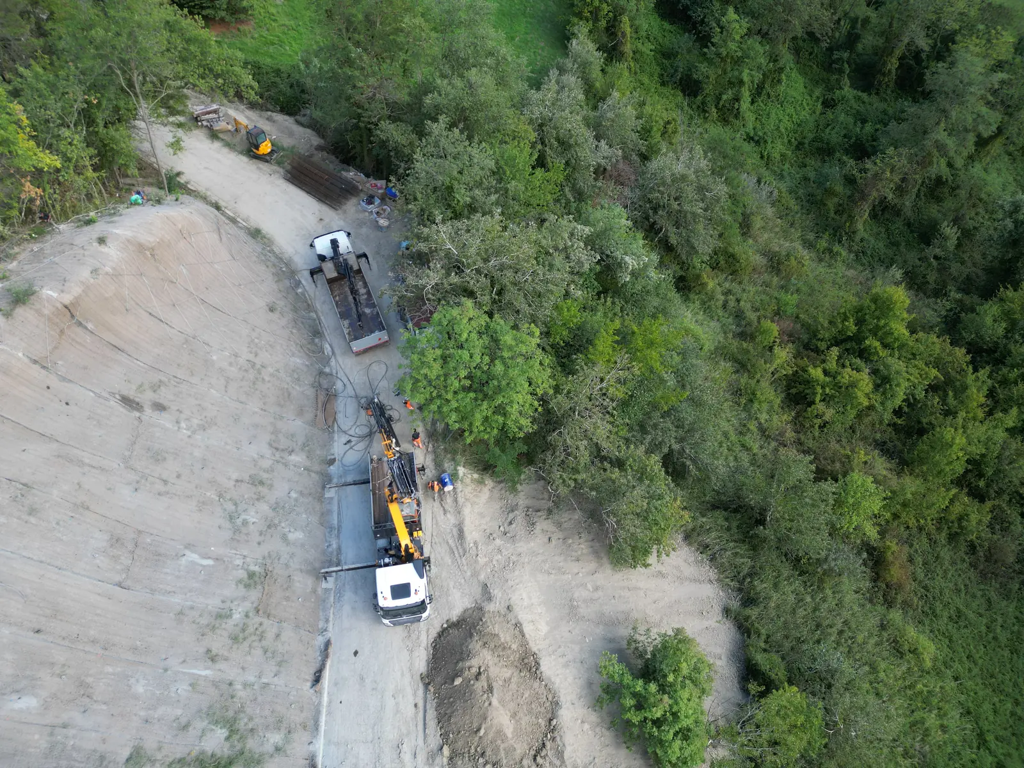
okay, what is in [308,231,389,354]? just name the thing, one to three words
truck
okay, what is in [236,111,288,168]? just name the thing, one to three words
work vehicle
